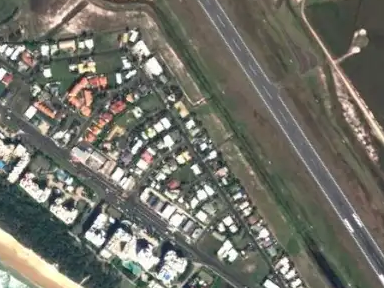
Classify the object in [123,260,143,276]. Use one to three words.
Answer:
swimming pool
